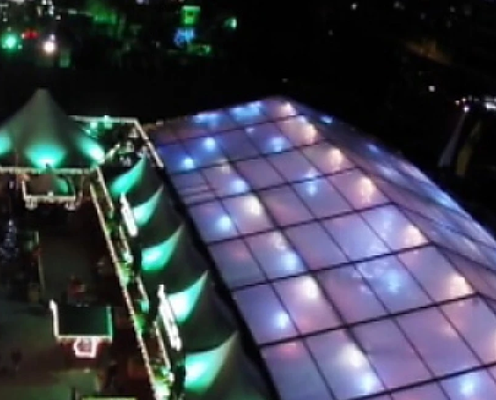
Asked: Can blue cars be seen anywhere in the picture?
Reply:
No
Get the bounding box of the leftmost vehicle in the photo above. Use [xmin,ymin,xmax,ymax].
[451,85,489,118]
